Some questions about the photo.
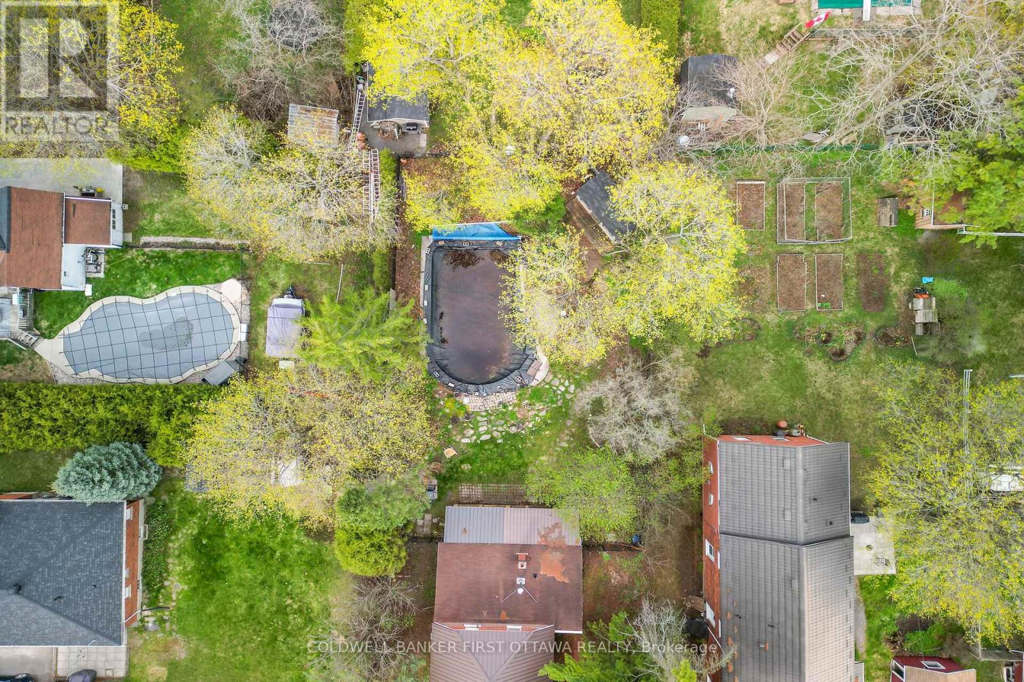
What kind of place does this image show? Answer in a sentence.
The area seen from above is a residential area.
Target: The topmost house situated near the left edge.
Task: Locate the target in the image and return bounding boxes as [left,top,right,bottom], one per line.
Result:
[0,187,127,291]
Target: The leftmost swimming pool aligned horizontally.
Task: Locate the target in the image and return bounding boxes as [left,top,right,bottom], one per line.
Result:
[36,285,240,385]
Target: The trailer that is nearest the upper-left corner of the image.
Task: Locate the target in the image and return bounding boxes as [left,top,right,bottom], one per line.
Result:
[265,285,306,355]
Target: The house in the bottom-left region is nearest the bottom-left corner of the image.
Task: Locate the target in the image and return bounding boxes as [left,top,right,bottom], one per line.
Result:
[0,490,153,648]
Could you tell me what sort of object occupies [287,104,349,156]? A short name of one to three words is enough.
shed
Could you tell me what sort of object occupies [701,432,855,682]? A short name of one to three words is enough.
house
